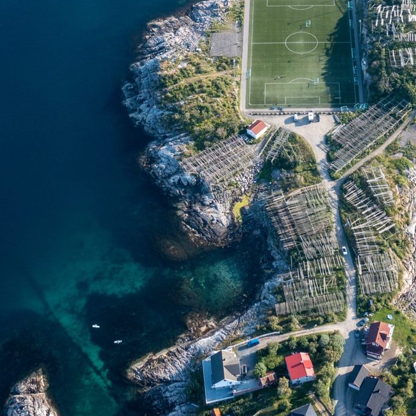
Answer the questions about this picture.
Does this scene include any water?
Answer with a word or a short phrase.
Yes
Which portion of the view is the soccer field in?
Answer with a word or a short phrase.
top right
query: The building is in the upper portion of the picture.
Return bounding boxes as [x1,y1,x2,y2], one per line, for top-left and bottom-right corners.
[244,120,271,141]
